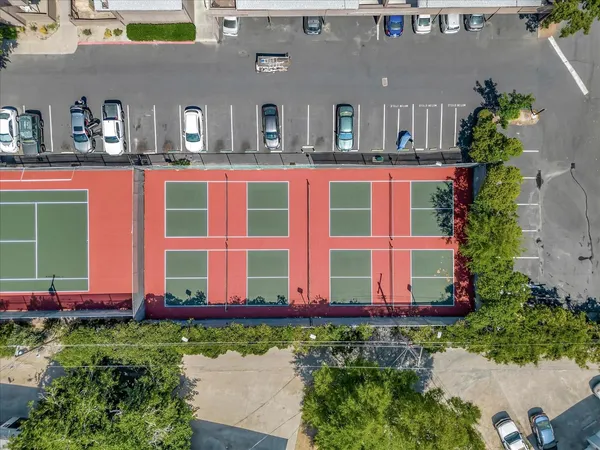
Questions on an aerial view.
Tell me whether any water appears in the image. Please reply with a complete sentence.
No, water can't be seen anywhere here.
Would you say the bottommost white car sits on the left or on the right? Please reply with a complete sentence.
It is on the right.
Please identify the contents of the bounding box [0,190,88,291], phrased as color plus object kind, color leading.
green tennis court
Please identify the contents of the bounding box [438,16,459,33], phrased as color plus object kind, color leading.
white car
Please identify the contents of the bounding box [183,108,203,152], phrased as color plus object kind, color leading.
white car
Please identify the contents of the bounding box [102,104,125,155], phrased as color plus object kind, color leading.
white truck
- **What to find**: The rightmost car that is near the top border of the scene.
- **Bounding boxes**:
[464,16,483,32]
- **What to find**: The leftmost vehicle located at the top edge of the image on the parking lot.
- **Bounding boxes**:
[223,16,240,36]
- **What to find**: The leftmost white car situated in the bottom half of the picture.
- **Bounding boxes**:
[496,421,526,450]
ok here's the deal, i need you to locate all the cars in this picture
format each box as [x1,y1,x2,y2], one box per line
[223,16,240,36]
[72,109,101,152]
[261,106,281,151]
[305,16,321,33]
[335,106,356,151]
[496,421,526,450]
[0,107,18,154]
[529,419,559,450]
[384,16,402,36]
[413,16,431,33]
[183,108,203,152]
[19,113,45,155]
[438,16,459,33]
[464,16,483,32]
